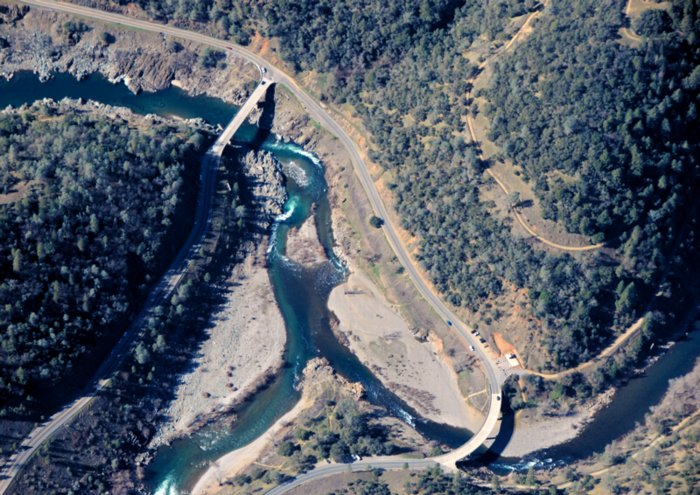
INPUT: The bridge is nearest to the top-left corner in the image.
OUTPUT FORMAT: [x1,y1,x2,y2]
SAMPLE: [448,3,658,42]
[208,83,273,155]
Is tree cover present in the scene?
Yes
